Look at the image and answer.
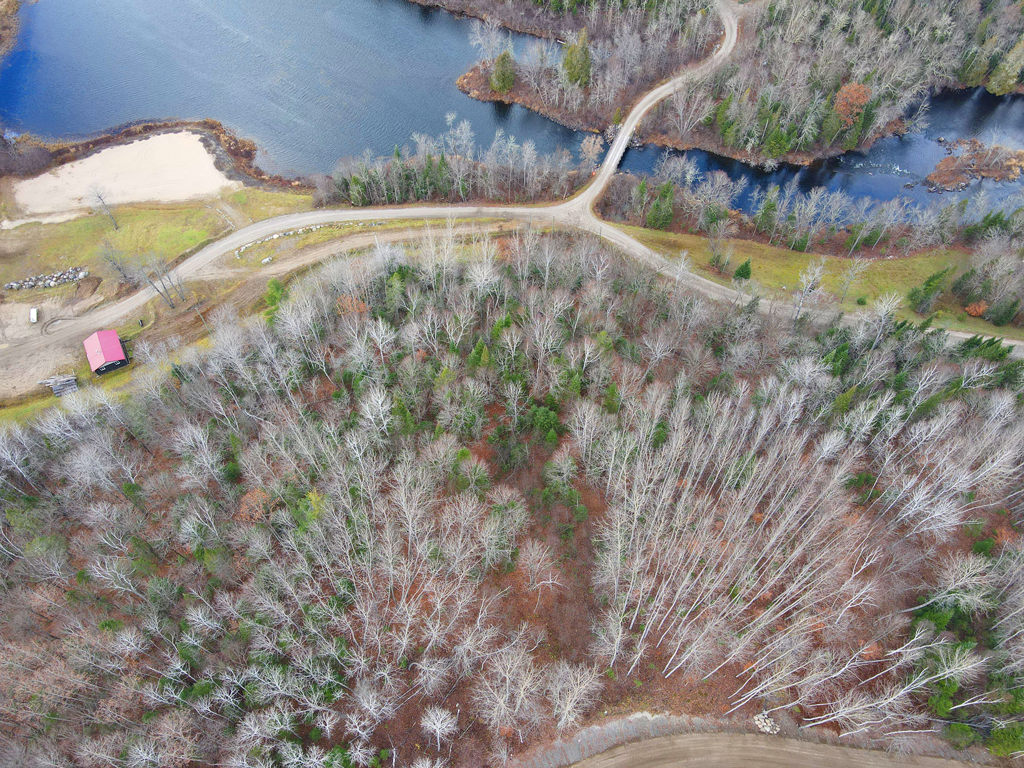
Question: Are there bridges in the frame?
Yes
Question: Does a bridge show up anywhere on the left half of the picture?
No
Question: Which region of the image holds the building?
left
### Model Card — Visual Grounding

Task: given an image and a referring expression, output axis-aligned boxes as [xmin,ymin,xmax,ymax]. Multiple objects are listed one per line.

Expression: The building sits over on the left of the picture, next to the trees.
[85,321,140,375]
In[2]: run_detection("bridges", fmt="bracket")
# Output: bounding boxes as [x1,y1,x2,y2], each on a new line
[595,126,637,177]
